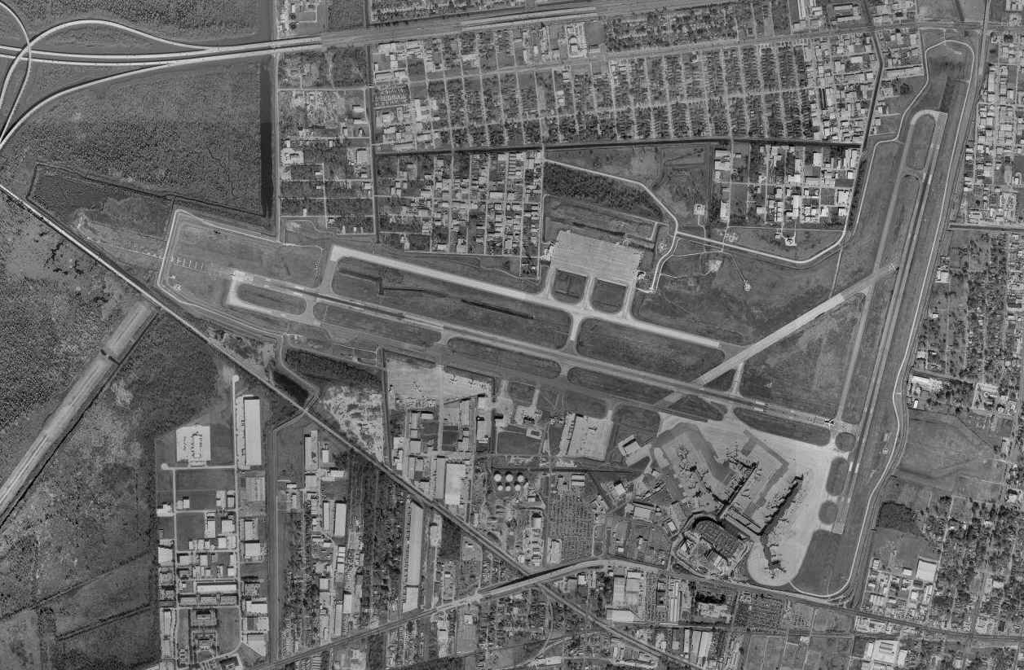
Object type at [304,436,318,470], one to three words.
building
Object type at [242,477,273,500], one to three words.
building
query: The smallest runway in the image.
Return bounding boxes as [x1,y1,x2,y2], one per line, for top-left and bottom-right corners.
[650,262,898,413]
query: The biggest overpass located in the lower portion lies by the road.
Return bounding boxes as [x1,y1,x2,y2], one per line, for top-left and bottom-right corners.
[478,563,575,599]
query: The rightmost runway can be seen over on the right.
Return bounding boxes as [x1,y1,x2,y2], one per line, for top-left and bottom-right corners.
[832,111,948,534]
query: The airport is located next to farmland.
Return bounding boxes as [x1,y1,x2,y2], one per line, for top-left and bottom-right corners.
[110,42,966,596]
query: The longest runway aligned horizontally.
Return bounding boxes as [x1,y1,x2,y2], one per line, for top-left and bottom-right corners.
[231,269,859,433]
